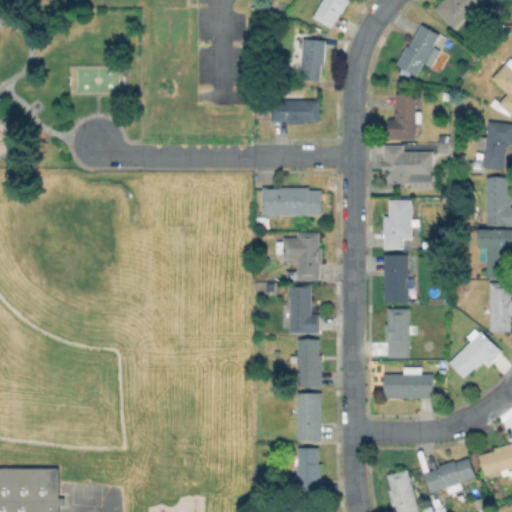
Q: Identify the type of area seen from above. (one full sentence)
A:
This image shows a residential area.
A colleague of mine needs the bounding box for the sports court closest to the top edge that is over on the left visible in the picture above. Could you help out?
[70,66,124,95]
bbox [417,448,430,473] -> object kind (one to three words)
vehicle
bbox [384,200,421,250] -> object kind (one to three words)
house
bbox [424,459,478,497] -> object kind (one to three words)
house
